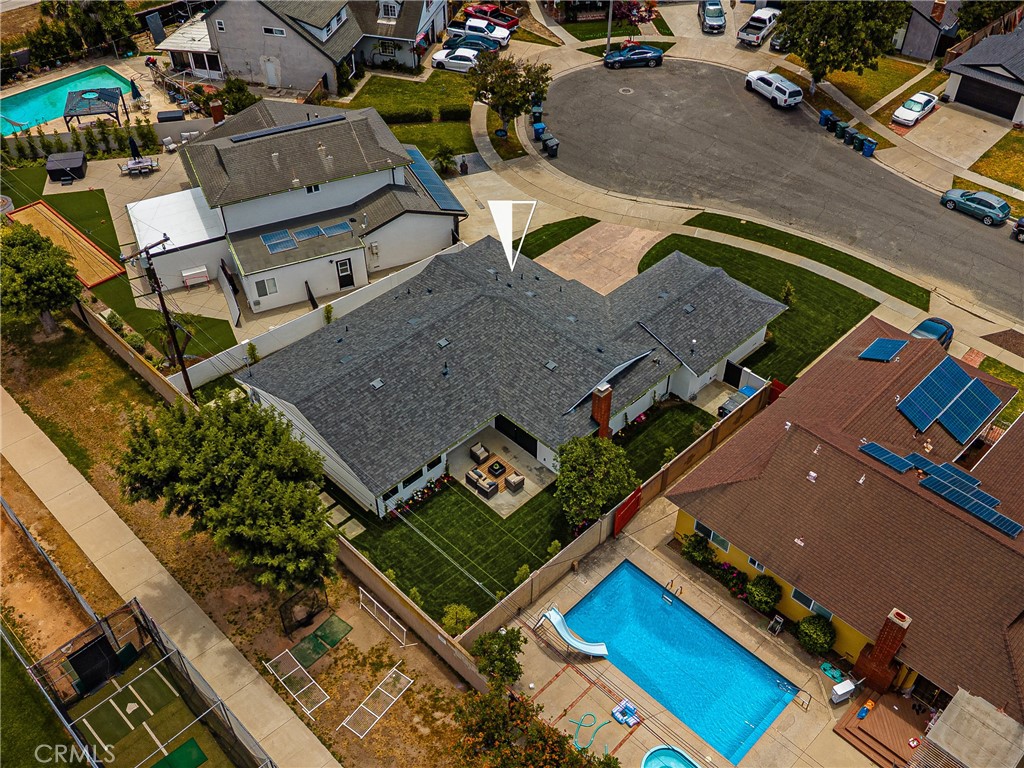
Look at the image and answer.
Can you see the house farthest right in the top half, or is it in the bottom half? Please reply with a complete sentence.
It is in the top half that the house farthest right appears.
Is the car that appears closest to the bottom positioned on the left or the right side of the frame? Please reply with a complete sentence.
It is on the right.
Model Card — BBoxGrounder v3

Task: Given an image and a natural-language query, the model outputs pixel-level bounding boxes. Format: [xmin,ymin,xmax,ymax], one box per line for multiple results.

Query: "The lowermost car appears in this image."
[913,318,968,353]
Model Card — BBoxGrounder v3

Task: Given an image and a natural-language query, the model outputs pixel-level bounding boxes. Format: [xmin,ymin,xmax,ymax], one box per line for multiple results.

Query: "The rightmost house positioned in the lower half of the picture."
[660,317,1024,757]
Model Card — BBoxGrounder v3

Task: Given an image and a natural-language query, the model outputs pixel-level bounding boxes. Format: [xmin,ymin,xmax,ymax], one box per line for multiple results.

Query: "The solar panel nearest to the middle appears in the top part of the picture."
[404,147,464,211]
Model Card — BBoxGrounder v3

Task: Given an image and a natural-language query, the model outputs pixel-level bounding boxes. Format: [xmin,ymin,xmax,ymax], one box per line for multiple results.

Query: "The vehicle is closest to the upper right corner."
[897,91,940,121]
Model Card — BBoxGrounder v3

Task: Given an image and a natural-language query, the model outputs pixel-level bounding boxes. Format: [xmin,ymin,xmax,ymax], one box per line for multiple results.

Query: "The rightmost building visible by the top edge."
[940,21,1024,123]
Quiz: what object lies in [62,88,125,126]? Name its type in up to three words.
gazebo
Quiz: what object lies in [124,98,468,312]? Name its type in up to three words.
house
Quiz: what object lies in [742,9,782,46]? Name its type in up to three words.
truck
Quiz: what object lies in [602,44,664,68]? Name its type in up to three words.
car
